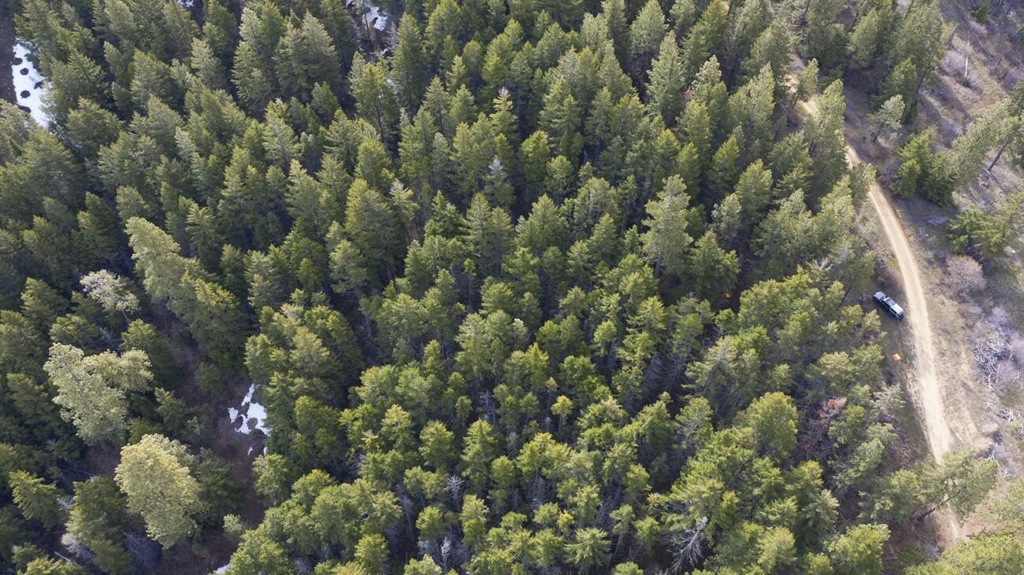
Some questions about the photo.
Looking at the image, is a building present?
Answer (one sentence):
No, the frame has no building in it.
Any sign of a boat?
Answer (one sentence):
No, there's no boat here.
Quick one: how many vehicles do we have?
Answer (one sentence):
The photo contains exactly 1 vehicle.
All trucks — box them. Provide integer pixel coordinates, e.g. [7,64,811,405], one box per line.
[871,292,907,322]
